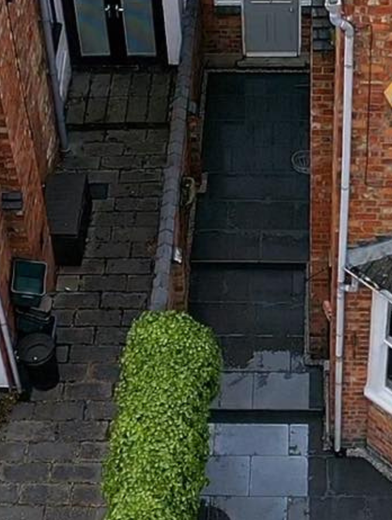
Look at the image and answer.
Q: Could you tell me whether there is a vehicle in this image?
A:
No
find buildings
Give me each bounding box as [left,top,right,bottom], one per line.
[0,0,185,390]
[305,0,392,471]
